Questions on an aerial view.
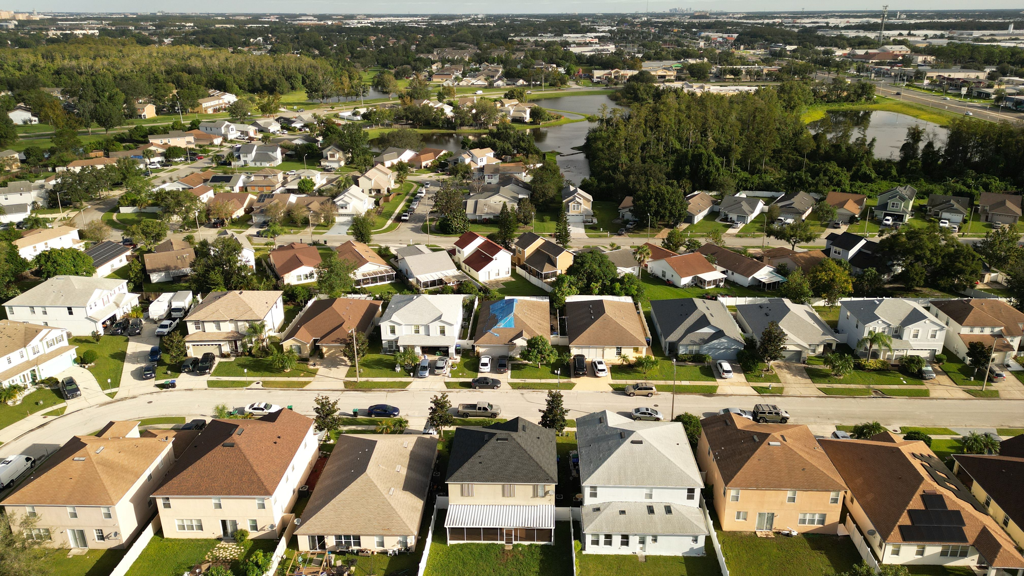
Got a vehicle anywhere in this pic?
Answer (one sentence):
Yes, you can see a vehicle in this photo.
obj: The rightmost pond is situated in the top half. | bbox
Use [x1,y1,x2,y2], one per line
[807,109,950,154]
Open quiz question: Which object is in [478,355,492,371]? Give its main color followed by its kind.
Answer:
white car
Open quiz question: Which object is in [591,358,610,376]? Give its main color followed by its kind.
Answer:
white car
